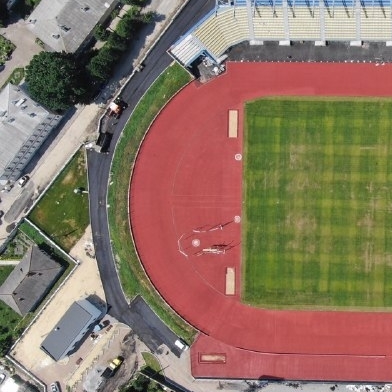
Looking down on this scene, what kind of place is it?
sports ground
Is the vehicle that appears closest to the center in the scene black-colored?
Yes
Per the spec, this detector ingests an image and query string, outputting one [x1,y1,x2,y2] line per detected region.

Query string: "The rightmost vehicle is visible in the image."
[171,337,188,350]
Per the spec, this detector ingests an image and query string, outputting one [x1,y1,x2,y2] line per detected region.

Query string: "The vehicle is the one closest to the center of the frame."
[94,127,113,153]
